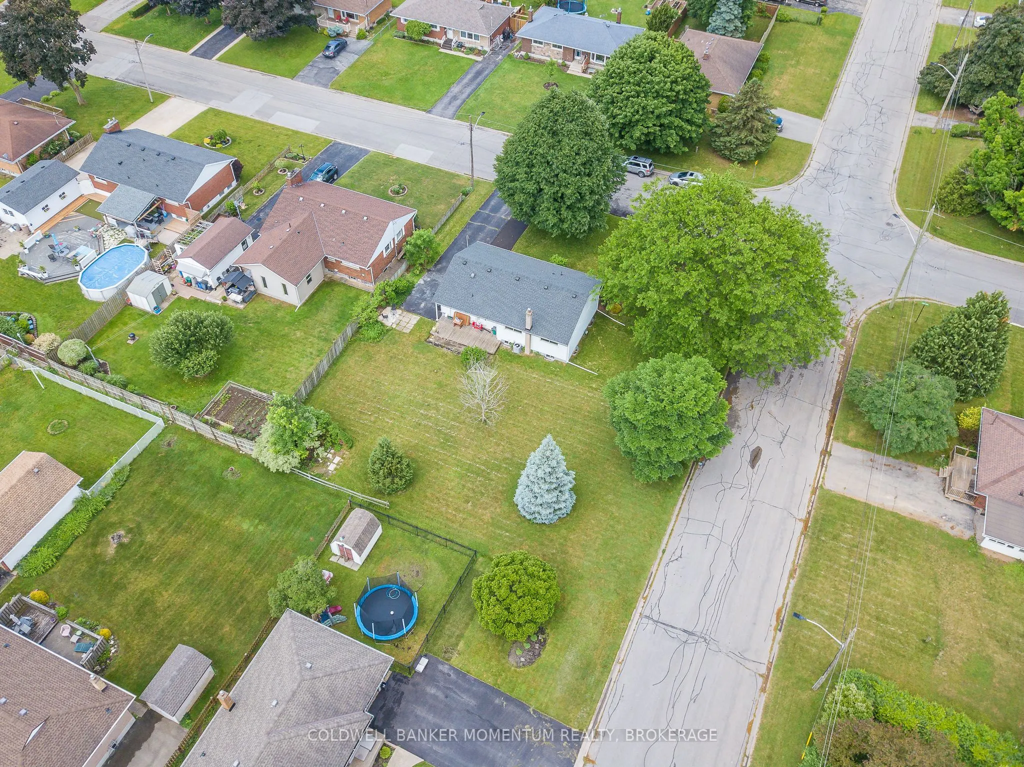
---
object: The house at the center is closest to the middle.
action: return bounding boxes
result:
[436,244,621,374]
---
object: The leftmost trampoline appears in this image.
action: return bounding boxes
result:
[352,570,419,646]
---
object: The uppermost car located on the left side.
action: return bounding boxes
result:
[319,43,348,62]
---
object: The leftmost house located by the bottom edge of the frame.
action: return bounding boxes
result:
[0,623,138,767]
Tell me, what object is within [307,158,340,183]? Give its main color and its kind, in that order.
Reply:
blue car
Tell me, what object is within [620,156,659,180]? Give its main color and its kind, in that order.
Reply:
gray car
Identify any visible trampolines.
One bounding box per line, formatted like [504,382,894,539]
[352,570,419,646]
[557,0,587,13]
